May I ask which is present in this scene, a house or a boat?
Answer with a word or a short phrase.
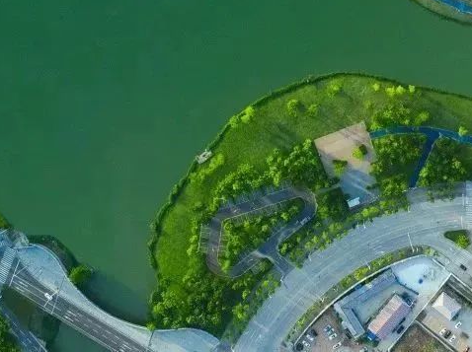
house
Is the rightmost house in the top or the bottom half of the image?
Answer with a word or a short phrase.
bottom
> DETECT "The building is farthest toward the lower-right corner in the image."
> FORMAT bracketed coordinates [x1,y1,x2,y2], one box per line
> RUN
[433,294,462,324]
